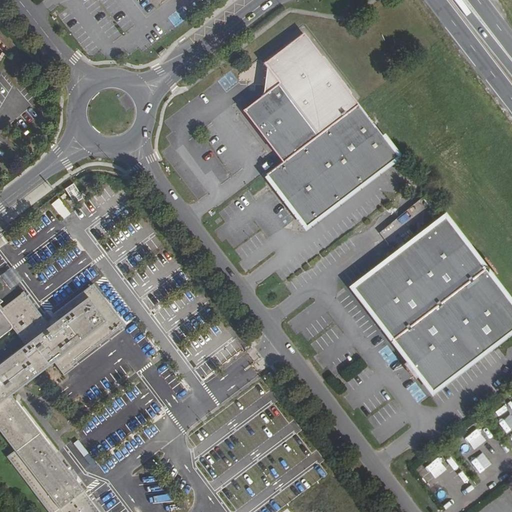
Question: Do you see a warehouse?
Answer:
Yes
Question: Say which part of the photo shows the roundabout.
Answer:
top left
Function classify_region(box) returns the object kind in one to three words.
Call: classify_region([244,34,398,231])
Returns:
warehouse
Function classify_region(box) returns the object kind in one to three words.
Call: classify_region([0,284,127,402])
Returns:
building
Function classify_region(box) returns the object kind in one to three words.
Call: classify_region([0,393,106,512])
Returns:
building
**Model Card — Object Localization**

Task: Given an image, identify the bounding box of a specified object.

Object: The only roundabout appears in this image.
[64,64,159,158]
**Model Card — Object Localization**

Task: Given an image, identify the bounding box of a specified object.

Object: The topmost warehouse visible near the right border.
[350,213,512,396]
